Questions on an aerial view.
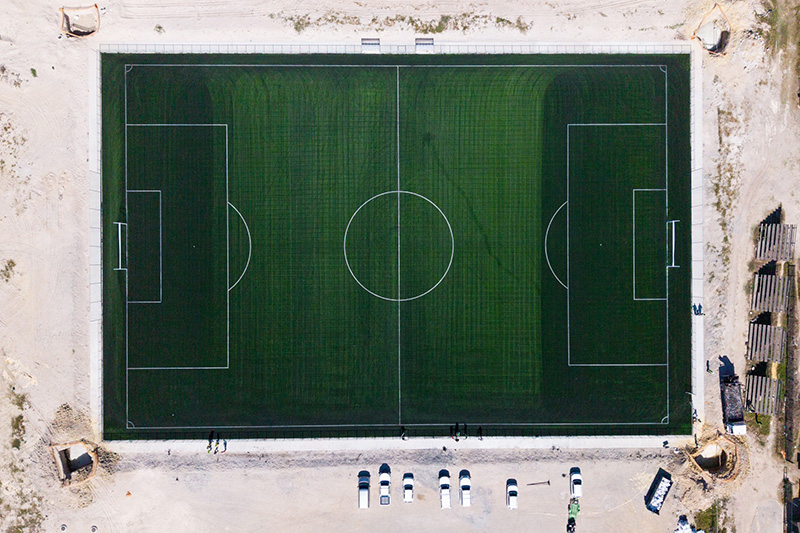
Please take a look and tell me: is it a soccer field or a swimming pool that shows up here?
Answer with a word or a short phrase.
soccer field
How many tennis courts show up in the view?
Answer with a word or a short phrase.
0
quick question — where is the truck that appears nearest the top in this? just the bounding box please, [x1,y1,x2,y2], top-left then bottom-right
[718,373,746,431]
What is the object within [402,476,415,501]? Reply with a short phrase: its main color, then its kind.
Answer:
white vehicle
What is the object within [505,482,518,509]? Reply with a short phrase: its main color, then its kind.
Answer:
white vehicle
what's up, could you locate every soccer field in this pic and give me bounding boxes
[102,53,692,440]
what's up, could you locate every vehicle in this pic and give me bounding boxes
[378,469,391,505]
[357,477,371,507]
[458,475,472,506]
[718,373,746,431]
[438,474,451,509]
[645,474,671,513]
[402,476,415,501]
[505,482,518,509]
[569,470,582,498]
[567,499,581,532]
